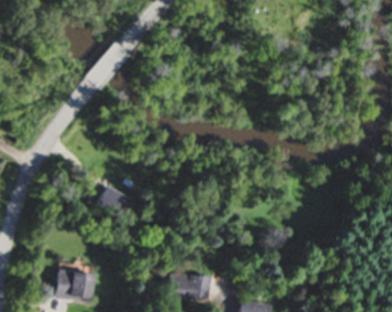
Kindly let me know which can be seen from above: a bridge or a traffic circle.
bridge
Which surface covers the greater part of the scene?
trees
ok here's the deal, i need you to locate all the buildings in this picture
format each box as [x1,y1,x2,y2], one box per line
[58,270,96,301]
[170,274,213,301]
[98,185,126,211]
[240,302,272,312]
